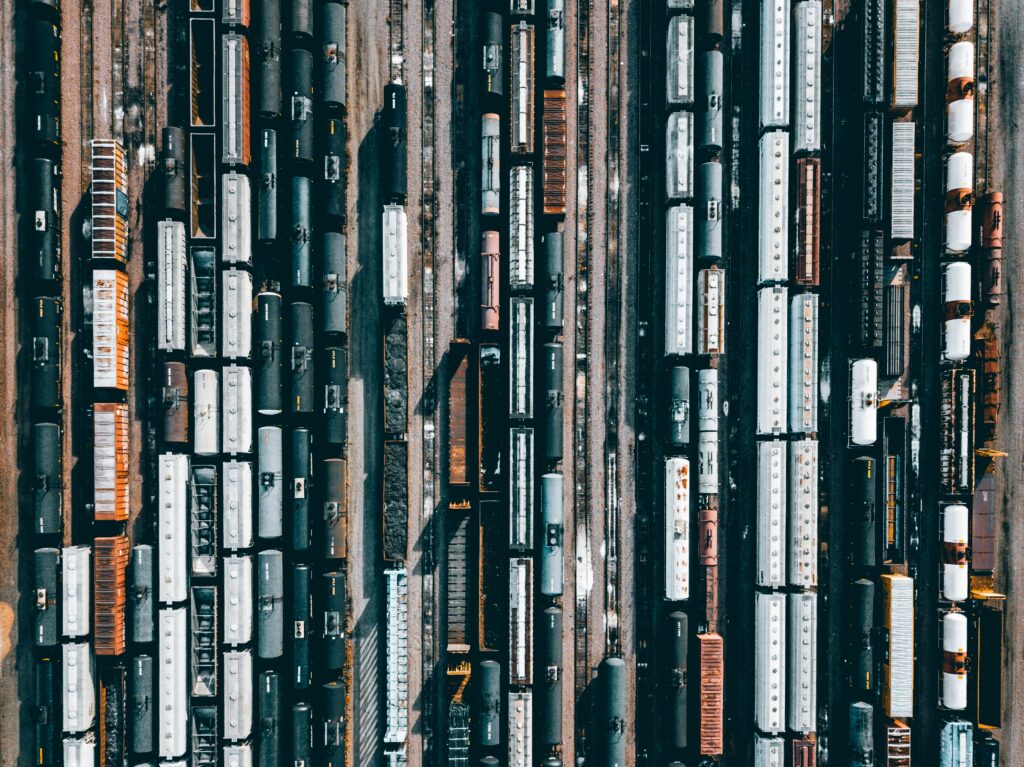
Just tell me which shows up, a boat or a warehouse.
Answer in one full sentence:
I can see a boat in this picture.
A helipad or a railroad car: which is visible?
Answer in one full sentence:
This aerial view contains a railroad car.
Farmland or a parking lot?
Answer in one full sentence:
What you see here is a parking lot.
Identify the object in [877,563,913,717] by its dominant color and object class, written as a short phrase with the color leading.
white rail car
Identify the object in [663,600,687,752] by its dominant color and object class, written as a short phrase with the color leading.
black rail car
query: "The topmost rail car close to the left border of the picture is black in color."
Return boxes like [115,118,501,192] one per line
[31,0,61,21]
